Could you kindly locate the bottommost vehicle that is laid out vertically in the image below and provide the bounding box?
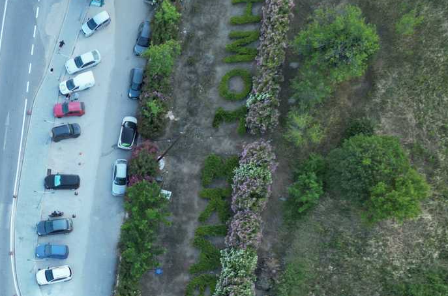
[111,160,127,195]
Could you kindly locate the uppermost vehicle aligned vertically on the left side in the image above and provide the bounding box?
[131,21,151,56]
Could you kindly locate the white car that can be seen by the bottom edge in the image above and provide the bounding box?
[36,267,73,284]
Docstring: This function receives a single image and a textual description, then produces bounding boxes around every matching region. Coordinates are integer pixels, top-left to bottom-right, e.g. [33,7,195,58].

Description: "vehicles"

[68,92,81,100]
[119,117,137,151]
[36,267,73,284]
[50,122,82,141]
[111,160,127,195]
[49,211,63,216]
[44,172,81,190]
[64,51,102,75]
[36,219,73,236]
[59,71,96,96]
[36,243,69,259]
[53,101,86,118]
[126,68,143,100]
[131,21,151,56]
